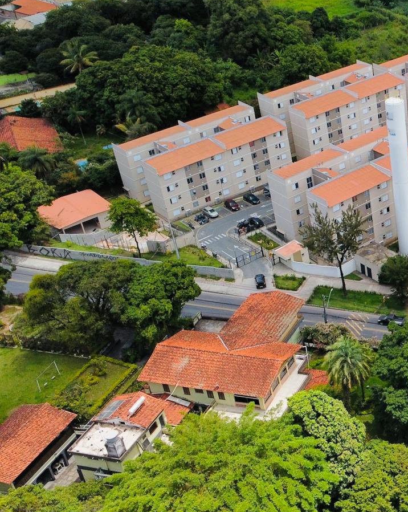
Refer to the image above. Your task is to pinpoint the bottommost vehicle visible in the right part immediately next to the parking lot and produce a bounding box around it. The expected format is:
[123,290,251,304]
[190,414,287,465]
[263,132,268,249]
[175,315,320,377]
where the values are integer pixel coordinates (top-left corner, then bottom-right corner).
[254,274,267,289]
